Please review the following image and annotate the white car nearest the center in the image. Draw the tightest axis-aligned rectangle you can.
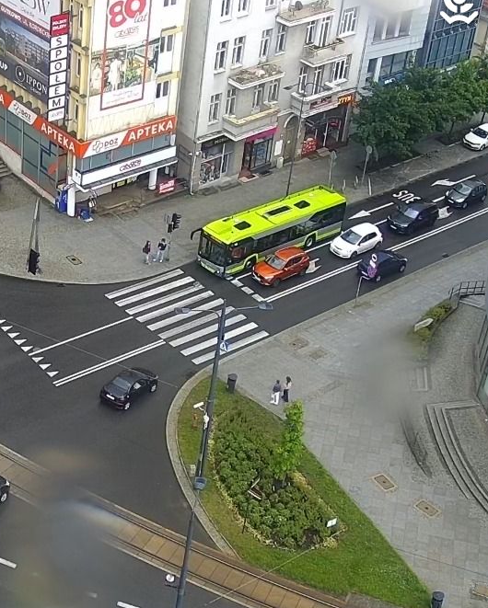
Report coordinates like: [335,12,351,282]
[331,220,388,257]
